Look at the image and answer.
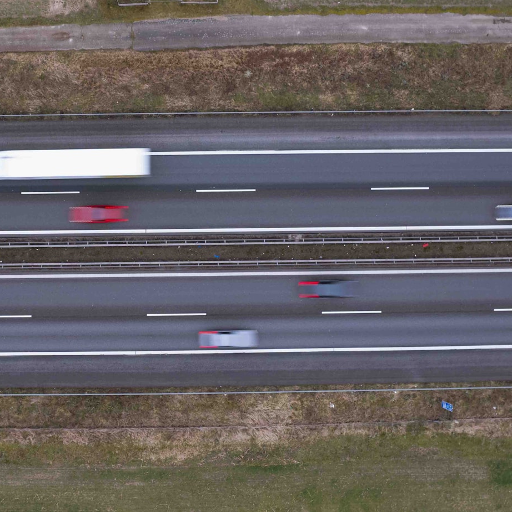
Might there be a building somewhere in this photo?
No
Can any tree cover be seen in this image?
No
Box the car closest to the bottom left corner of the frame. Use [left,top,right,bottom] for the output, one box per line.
[204,329,254,349]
